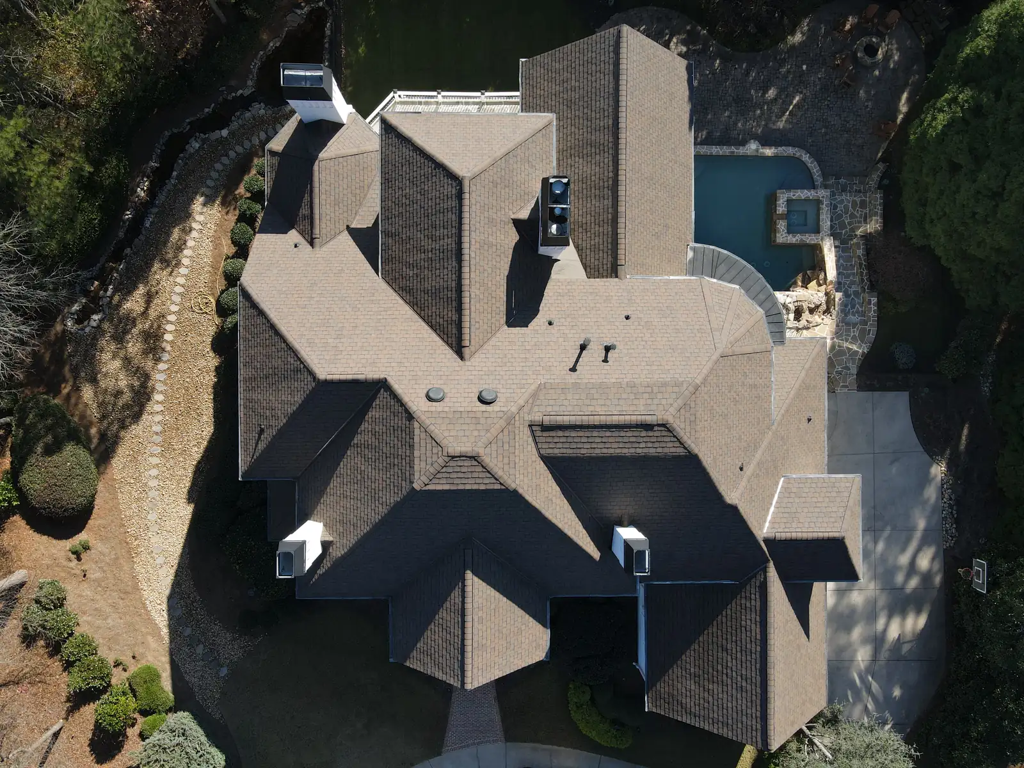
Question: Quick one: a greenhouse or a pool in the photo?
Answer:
pool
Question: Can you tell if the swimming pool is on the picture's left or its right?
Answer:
right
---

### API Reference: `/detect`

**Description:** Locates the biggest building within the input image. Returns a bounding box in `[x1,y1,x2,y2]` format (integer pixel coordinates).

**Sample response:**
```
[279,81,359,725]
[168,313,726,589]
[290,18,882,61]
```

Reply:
[237,24,864,750]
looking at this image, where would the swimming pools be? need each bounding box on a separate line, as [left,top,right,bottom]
[696,147,831,298]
